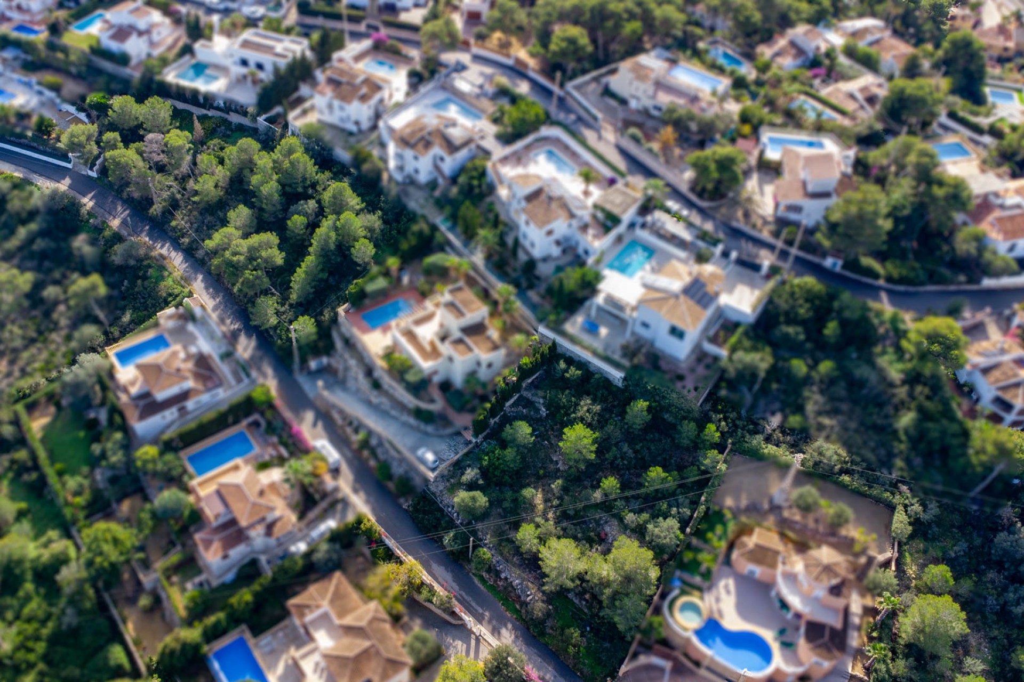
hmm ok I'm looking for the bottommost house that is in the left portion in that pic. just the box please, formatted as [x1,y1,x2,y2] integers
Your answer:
[282,567,418,682]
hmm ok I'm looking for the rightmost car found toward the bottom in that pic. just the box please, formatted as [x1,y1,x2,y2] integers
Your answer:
[416,446,443,470]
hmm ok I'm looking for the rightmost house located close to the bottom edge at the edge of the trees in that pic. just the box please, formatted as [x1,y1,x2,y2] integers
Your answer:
[725,527,859,682]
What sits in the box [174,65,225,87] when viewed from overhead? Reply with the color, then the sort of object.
blue swimming pool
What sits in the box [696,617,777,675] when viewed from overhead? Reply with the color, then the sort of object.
blue swimming pool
